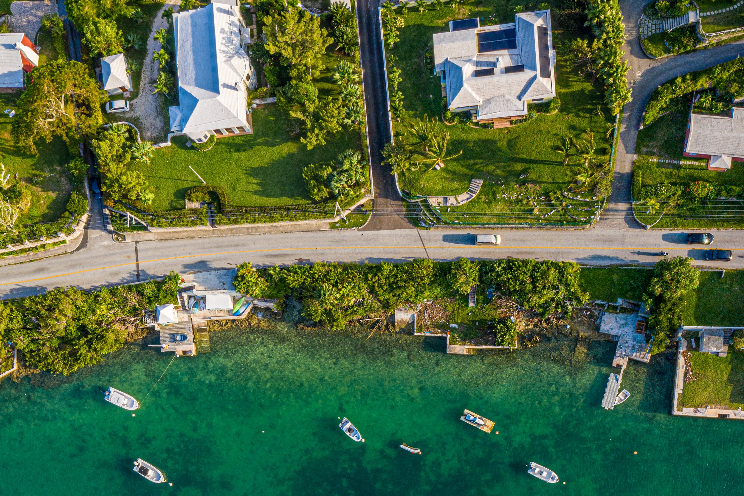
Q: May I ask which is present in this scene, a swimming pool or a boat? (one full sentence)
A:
Of the two, only a boat appears.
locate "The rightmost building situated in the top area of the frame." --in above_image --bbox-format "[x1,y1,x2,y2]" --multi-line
[685,107,744,175]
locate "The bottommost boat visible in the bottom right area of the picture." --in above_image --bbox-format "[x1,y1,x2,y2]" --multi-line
[525,462,559,483]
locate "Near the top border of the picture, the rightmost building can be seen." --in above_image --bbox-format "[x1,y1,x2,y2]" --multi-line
[434,10,556,130]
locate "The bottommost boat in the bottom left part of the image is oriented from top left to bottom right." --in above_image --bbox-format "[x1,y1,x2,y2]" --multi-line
[132,458,166,483]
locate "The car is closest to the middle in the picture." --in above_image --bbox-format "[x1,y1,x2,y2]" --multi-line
[475,232,501,247]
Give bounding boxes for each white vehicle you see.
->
[107,101,129,114]
[475,232,501,247]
